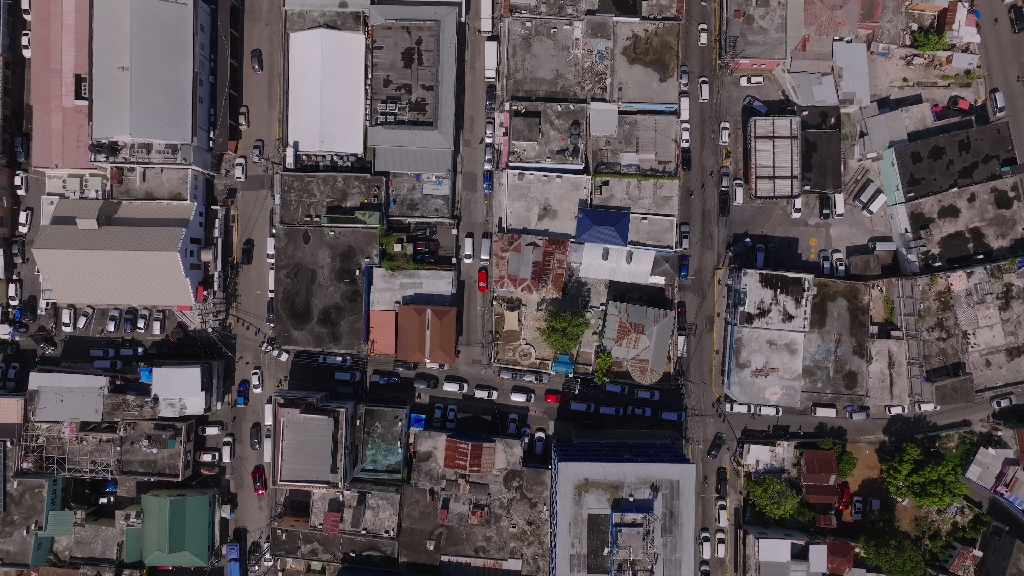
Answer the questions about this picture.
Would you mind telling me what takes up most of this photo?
buildings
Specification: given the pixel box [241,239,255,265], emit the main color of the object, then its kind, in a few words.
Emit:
black car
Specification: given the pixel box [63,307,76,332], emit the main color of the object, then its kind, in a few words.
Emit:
white vehicle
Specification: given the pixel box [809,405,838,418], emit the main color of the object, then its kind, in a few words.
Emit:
white vehicle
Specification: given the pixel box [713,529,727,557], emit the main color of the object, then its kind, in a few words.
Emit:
white car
